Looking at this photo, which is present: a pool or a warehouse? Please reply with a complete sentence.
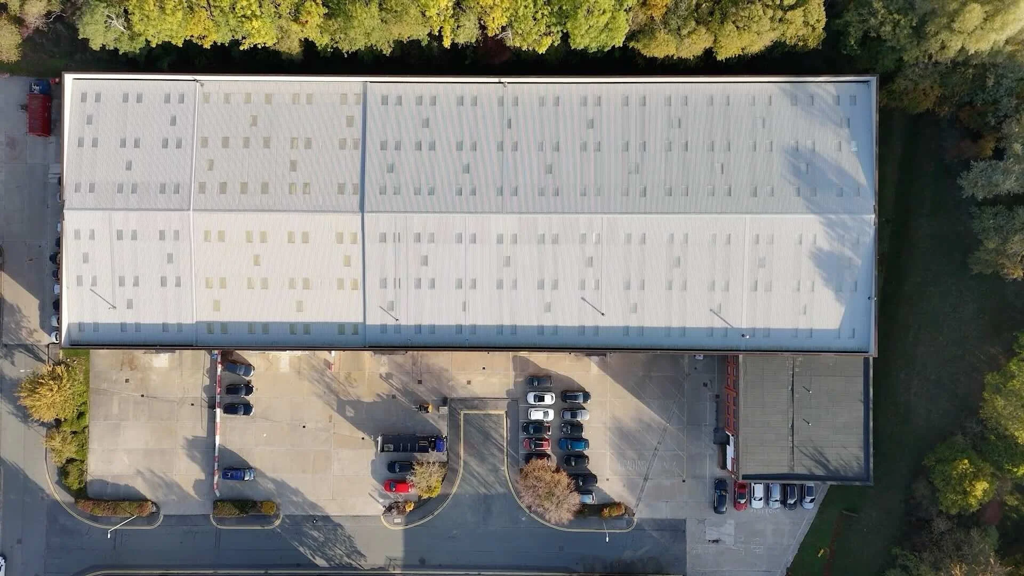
I can see a warehouse in this picture.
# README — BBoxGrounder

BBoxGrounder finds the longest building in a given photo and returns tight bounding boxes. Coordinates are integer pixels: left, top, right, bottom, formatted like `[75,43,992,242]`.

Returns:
[61,72,879,356]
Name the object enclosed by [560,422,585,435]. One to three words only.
vehicle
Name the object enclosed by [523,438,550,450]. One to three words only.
vehicle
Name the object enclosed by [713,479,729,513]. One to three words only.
car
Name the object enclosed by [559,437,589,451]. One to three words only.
car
